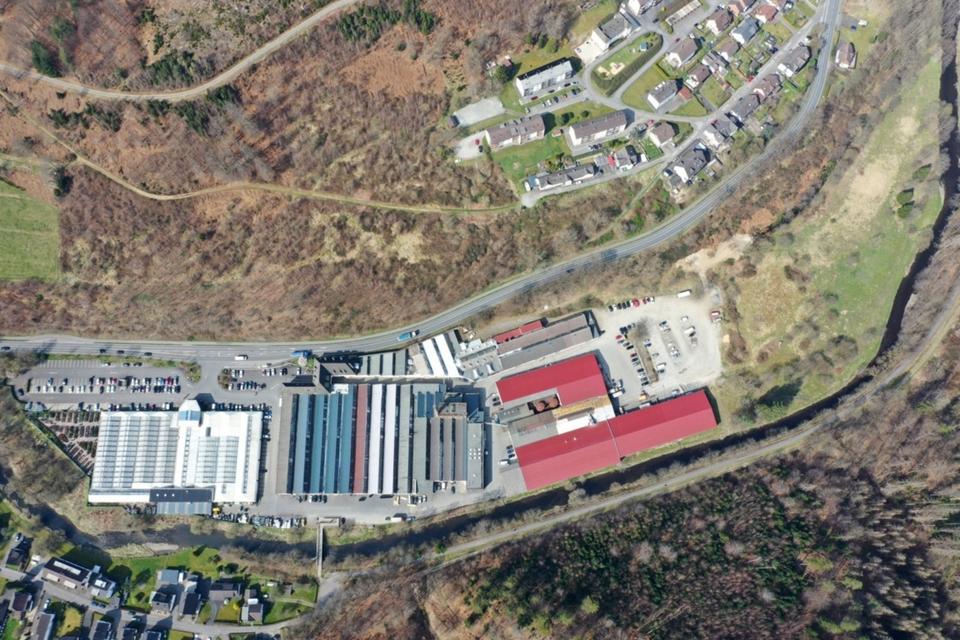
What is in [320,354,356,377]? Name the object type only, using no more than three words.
building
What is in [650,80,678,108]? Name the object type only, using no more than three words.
house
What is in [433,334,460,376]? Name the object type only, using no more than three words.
shed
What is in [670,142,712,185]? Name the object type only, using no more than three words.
house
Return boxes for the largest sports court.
[453,97,503,127]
